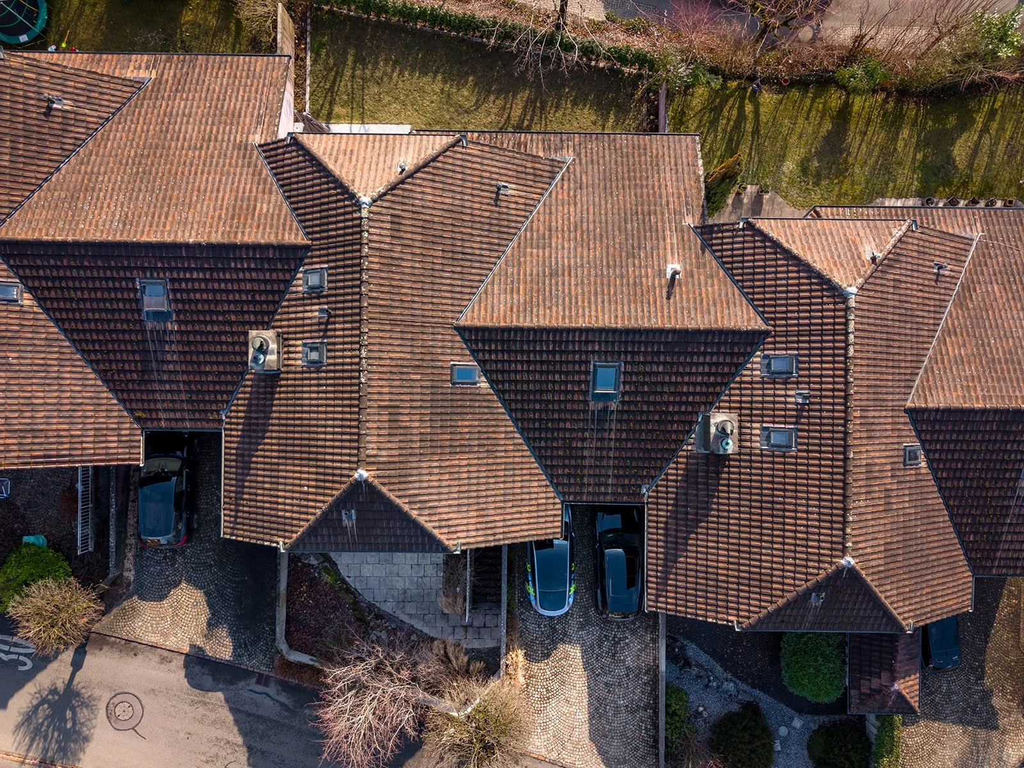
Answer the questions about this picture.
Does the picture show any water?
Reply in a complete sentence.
No, the picture contains no water.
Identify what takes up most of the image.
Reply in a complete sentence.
The largest share of the image is taken up by buildings.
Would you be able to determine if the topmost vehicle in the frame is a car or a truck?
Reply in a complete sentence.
In the photo, the topmost vehicle shows up as a car.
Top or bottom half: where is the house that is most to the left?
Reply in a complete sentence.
You can find the house that is most to the left in the top half.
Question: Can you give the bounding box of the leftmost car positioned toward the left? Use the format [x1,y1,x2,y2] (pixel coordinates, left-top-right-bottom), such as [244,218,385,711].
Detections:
[136,434,200,546]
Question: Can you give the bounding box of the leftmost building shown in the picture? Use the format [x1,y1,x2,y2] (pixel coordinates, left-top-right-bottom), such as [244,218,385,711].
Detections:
[0,47,306,476]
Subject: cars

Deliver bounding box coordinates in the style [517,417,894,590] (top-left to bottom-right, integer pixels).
[593,508,643,619]
[923,617,968,670]
[136,434,200,546]
[528,510,582,615]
